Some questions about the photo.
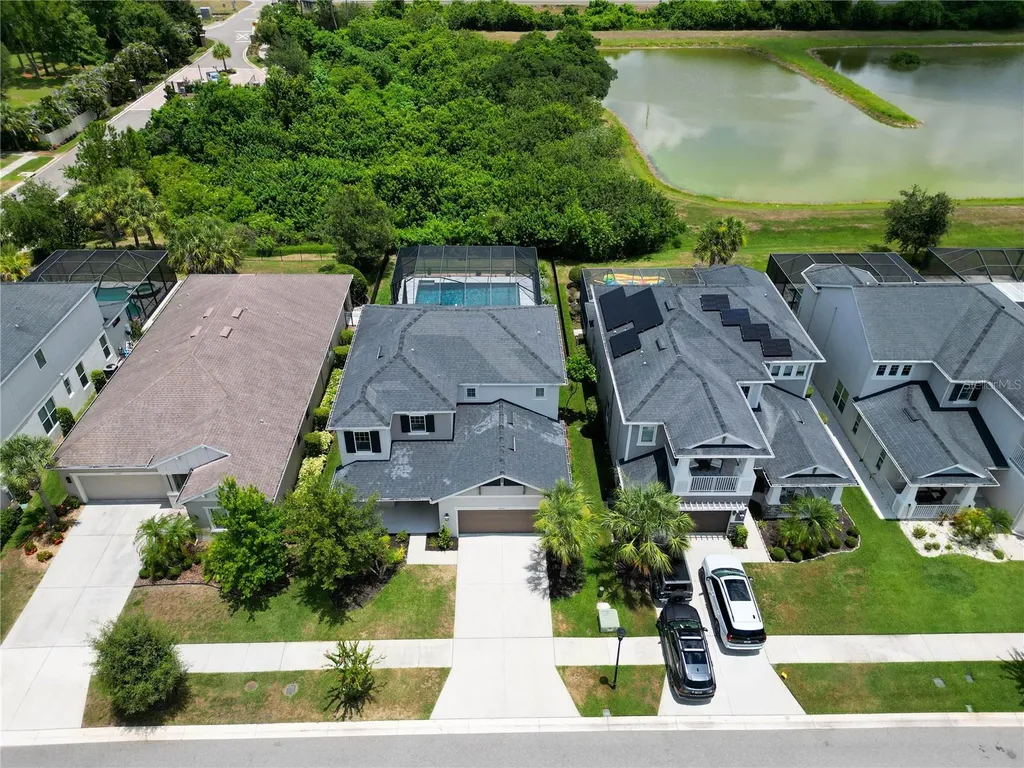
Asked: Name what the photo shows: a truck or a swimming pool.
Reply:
swimming pool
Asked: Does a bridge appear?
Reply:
No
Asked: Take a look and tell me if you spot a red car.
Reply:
No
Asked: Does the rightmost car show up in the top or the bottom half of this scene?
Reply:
bottom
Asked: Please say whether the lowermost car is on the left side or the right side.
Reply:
right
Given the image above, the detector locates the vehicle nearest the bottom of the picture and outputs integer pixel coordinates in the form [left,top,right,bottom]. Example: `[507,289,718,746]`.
[659,607,718,703]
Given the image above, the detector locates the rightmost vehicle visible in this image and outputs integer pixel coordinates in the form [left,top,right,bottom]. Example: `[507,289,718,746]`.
[702,562,767,650]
